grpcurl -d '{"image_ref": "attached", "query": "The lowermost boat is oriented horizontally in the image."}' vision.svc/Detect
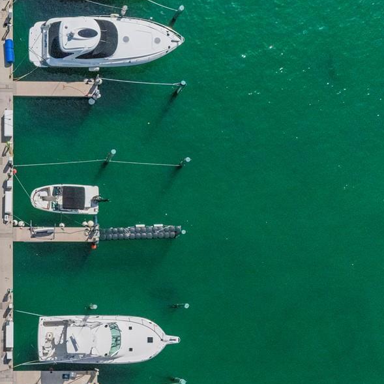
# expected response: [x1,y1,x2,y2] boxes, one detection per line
[14,311,180,368]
